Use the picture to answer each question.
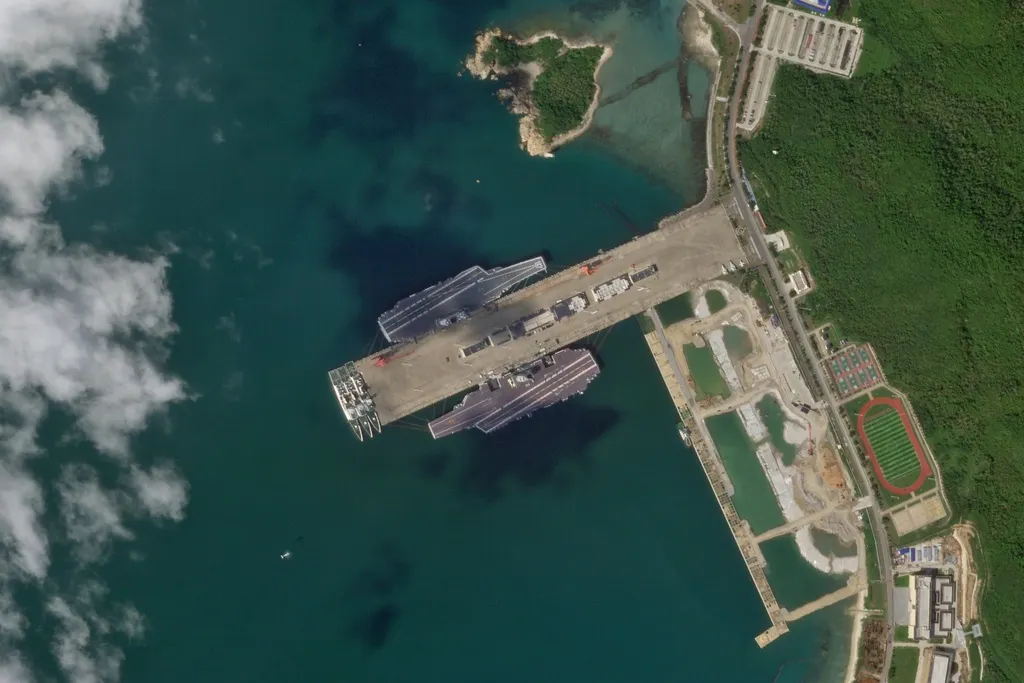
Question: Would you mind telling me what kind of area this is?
port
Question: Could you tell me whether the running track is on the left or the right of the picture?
right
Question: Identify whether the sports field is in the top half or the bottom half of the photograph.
bottom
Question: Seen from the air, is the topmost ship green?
No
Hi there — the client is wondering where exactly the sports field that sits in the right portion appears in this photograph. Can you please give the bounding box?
[863,404,921,487]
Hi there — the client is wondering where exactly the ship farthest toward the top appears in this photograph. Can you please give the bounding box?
[378,257,548,344]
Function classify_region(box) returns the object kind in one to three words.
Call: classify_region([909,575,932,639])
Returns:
building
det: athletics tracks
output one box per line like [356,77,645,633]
[857,391,928,493]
